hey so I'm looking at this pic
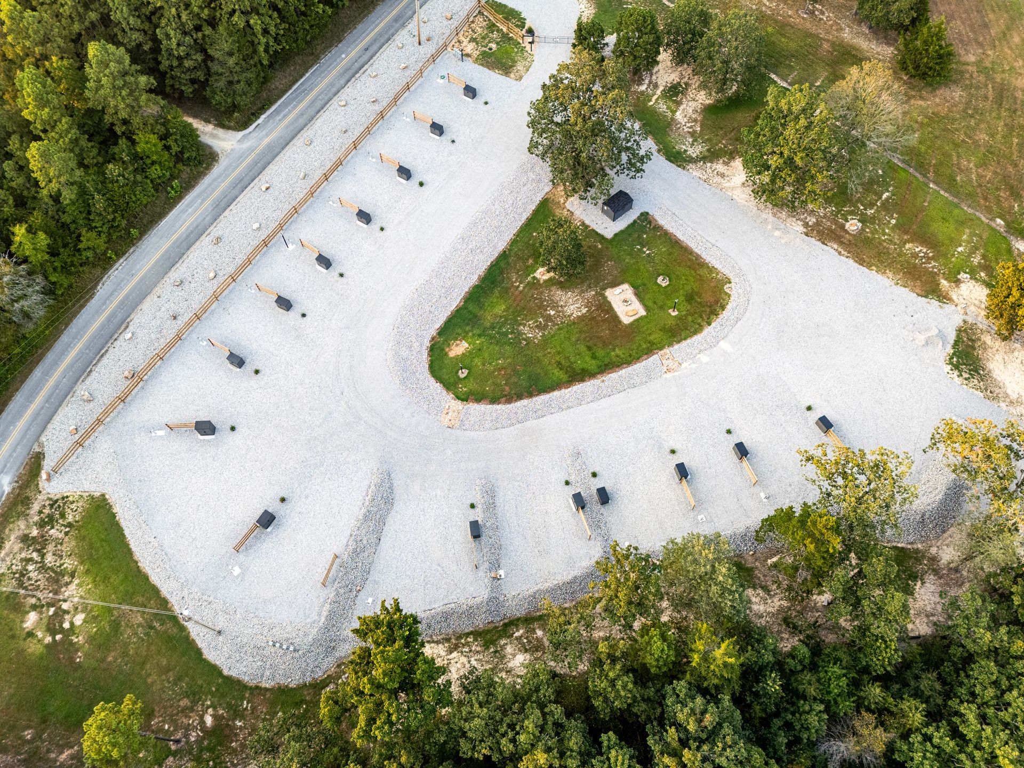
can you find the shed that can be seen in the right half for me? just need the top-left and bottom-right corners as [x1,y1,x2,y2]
[603,190,634,221]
